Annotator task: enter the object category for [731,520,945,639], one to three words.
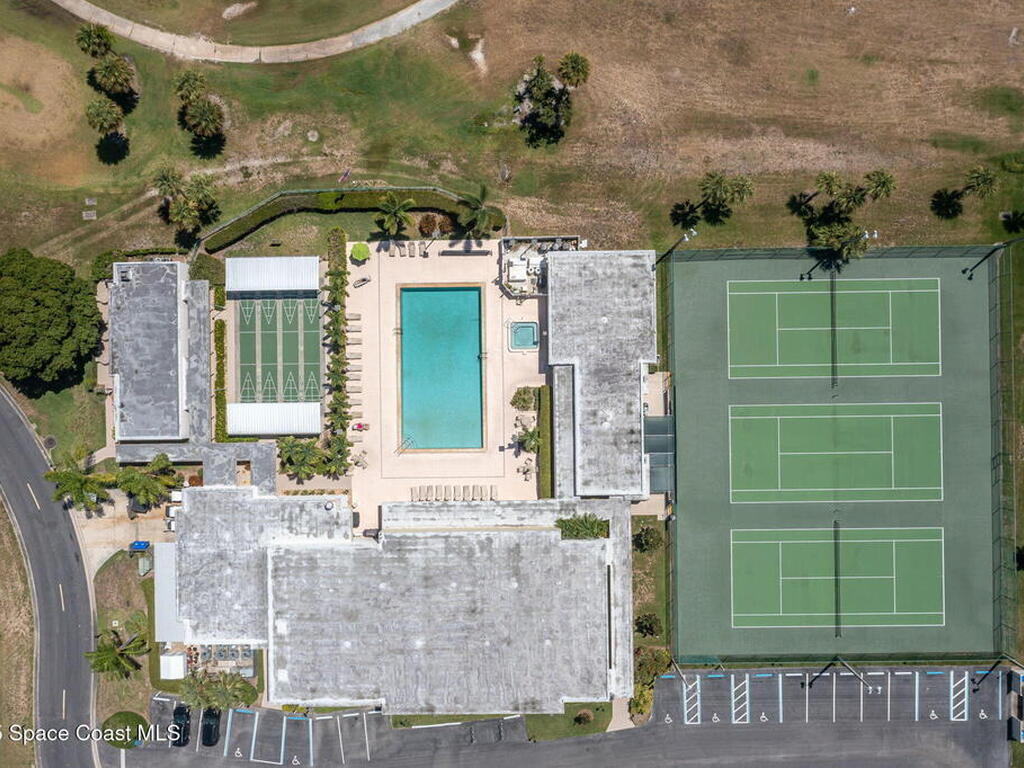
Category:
tennis court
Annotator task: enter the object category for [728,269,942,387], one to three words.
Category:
tennis court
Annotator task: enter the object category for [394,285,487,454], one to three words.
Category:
swimming pool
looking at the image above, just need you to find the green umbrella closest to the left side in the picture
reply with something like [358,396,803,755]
[351,243,370,262]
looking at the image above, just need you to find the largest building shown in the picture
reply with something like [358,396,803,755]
[154,486,632,714]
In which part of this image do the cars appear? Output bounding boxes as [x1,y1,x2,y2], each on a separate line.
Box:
[199,708,221,748]
[170,707,192,748]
